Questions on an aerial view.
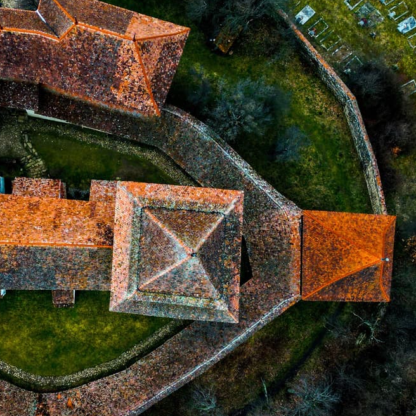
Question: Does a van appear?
No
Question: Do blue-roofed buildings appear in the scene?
No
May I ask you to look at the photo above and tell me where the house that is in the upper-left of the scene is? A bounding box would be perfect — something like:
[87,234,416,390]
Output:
[0,0,191,118]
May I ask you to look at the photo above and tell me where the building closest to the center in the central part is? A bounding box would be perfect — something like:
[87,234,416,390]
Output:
[108,179,246,324]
